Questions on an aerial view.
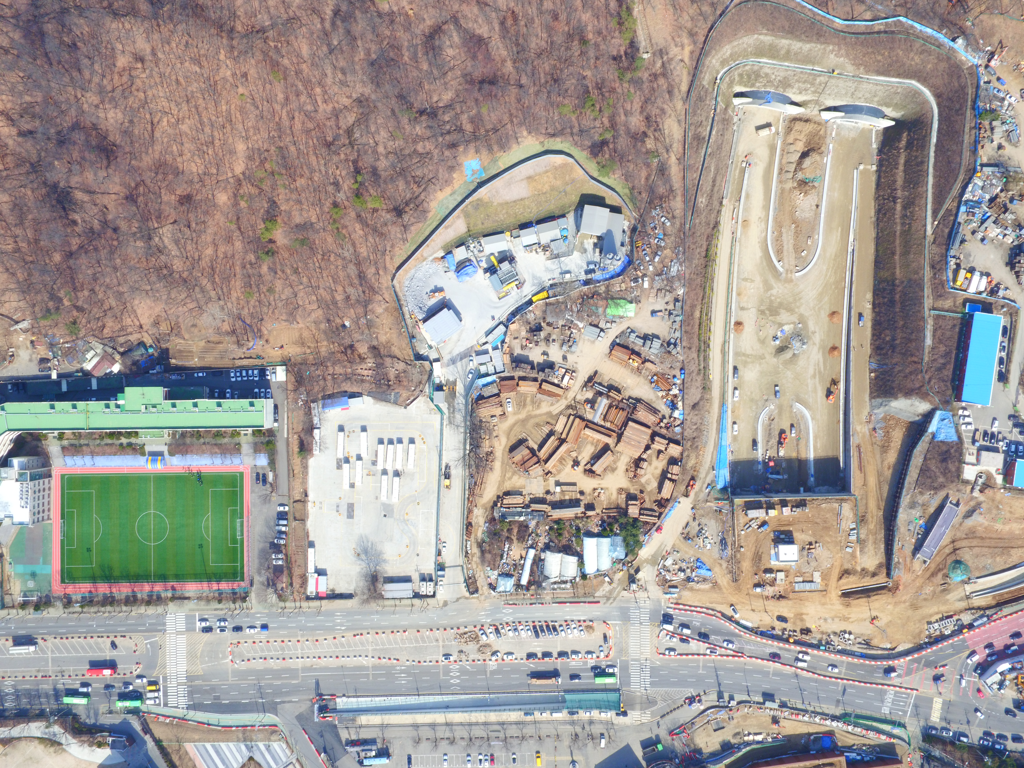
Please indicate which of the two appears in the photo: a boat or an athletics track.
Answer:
athletics track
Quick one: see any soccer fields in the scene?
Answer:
Yes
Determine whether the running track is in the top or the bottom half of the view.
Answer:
bottom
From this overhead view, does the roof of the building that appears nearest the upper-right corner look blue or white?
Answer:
blue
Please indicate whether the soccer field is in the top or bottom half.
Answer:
bottom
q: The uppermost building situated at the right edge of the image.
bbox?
[953,302,1003,406]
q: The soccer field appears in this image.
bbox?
[60,472,244,584]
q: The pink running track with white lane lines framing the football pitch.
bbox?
[52,465,250,594]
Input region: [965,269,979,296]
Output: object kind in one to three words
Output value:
vehicle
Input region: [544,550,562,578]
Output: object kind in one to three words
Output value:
greenhouse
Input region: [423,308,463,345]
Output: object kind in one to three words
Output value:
shed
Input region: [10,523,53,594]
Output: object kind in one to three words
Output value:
sports court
